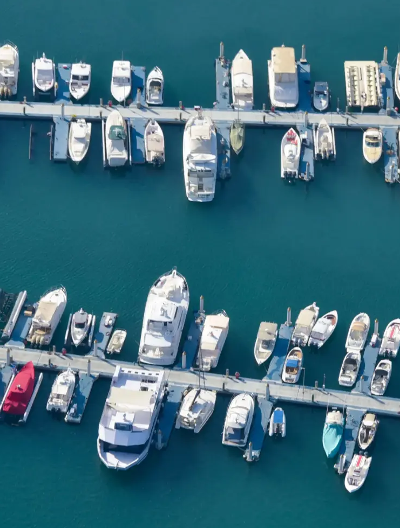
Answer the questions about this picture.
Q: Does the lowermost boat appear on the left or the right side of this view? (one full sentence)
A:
You can find the lowermost boat on the right side of the picture.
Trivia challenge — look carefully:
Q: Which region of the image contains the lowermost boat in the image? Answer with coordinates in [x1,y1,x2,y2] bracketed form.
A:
[345,450,374,496]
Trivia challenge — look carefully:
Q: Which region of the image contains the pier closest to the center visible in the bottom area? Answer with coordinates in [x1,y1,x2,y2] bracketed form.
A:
[180,313,205,369]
